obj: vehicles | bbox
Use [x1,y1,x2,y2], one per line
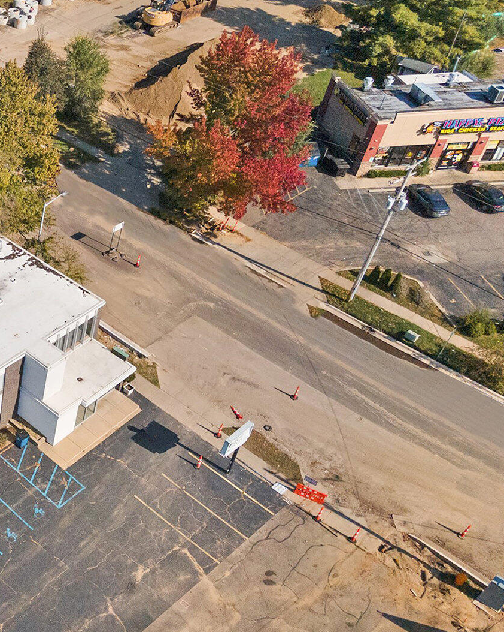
[460,182,504,211]
[133,0,176,32]
[413,184,453,213]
